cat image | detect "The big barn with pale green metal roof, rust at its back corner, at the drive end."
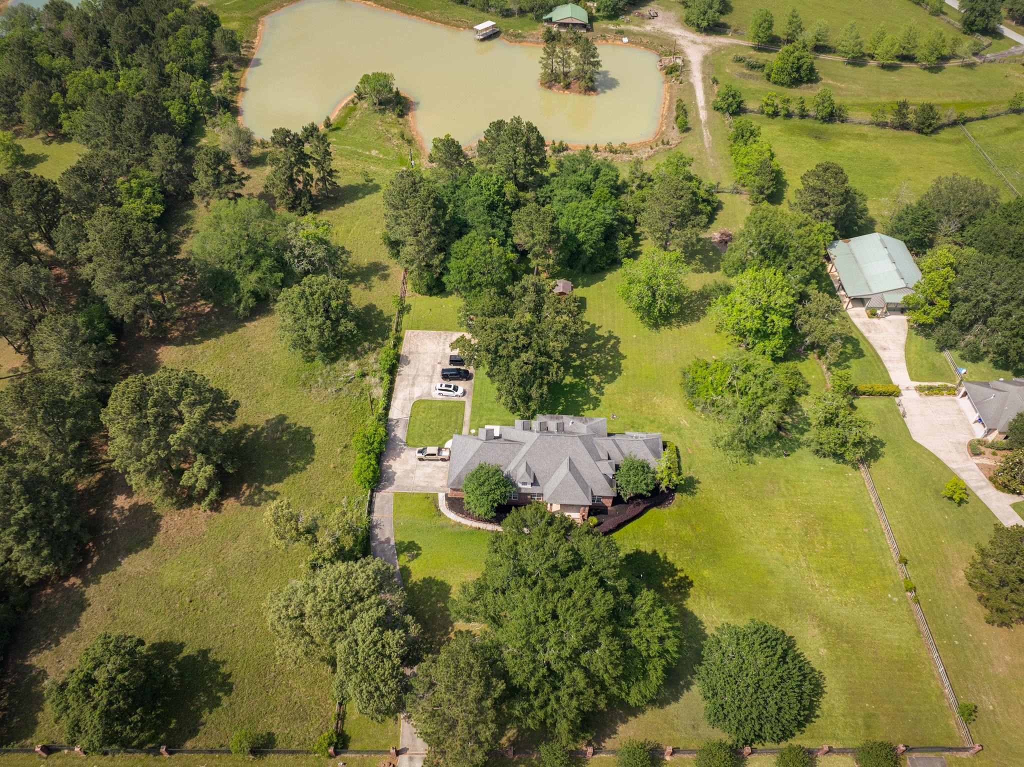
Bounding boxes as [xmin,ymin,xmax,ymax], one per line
[823,232,929,319]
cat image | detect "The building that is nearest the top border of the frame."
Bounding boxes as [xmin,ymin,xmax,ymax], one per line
[541,8,592,35]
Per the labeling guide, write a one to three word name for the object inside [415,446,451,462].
vehicle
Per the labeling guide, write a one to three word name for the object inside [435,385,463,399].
car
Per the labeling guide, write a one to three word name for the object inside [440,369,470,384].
car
